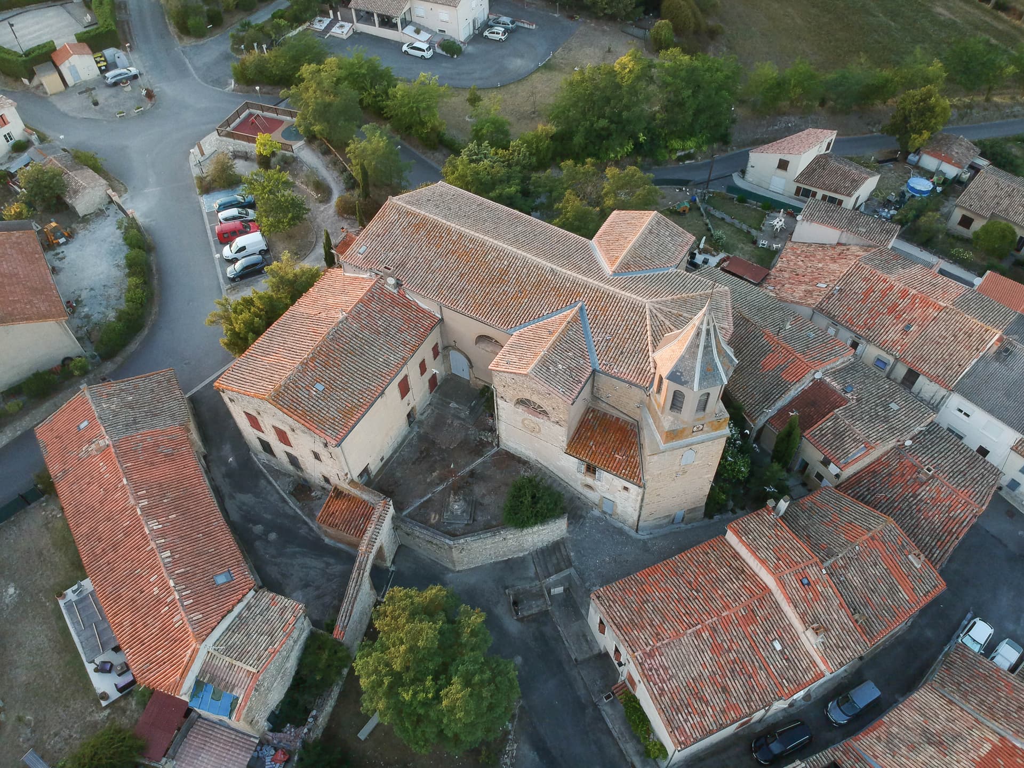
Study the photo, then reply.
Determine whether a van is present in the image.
Yes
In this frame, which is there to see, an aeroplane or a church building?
church building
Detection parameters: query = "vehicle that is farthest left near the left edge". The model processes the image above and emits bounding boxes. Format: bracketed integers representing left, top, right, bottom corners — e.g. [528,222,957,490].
[39,219,73,245]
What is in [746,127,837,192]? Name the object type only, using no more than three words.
house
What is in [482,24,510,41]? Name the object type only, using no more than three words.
car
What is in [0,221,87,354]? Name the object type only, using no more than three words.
house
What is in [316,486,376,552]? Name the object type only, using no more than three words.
shed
